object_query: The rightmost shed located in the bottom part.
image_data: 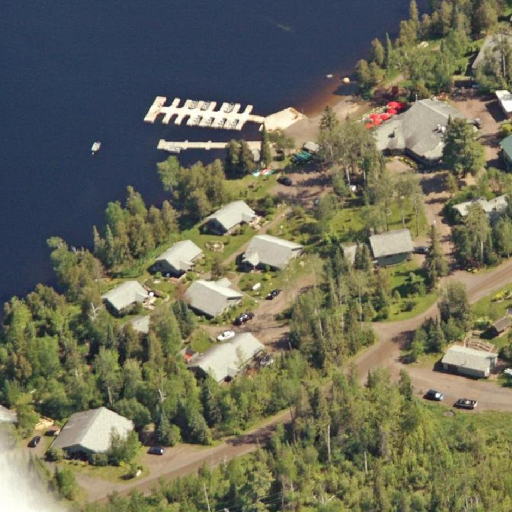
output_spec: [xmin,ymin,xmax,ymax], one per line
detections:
[485,309,512,334]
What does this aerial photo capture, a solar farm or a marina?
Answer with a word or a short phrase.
marina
